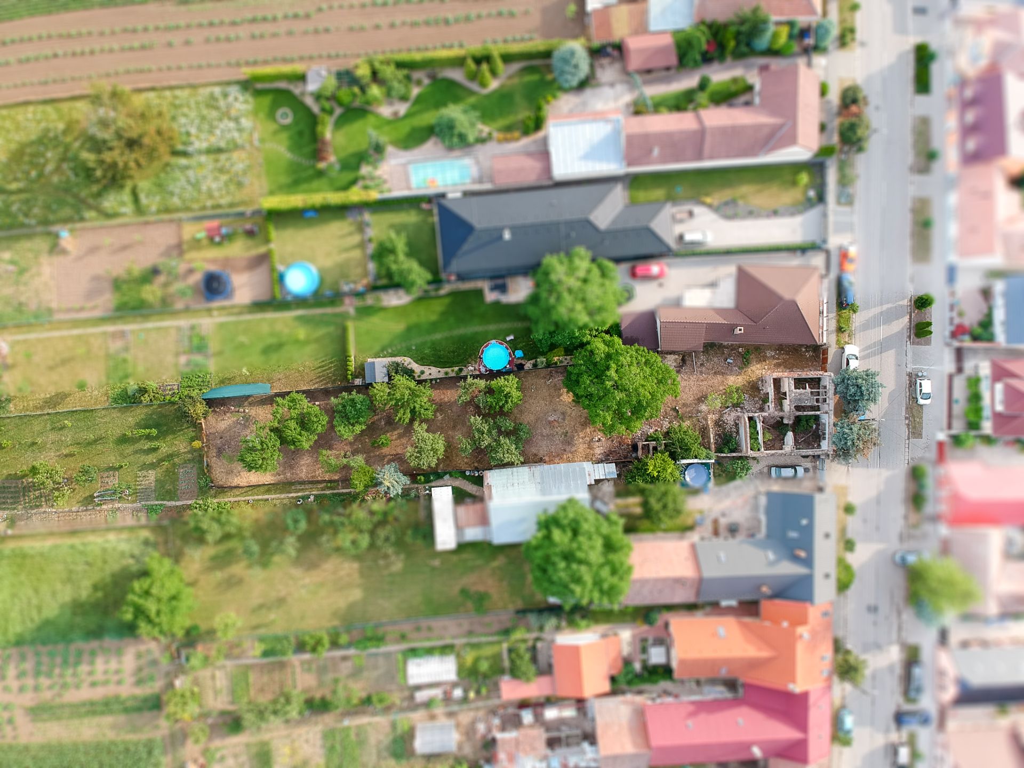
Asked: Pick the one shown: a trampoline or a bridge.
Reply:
trampoline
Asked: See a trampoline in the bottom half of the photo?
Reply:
No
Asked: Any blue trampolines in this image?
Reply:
Yes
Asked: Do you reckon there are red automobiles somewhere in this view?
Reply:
Yes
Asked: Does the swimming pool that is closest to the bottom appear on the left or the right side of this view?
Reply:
right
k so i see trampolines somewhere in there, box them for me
[203,271,232,299]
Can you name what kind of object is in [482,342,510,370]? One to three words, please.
swimming pool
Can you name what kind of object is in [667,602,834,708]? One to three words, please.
house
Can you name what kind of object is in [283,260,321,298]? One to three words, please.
swimming pool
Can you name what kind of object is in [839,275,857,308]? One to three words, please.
vehicle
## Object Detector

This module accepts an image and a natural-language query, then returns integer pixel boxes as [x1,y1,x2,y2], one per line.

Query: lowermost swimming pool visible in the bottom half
[683,463,710,489]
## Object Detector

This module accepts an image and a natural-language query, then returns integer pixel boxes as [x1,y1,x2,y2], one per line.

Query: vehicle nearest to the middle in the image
[632,263,666,279]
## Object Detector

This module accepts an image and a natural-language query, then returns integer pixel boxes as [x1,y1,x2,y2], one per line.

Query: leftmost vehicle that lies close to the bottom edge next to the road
[836,707,853,738]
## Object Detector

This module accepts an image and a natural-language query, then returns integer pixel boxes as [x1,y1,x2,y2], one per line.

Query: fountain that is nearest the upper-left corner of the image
[274,106,293,125]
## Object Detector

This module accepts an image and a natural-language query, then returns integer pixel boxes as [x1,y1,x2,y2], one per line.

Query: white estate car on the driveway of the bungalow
[677,229,711,245]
